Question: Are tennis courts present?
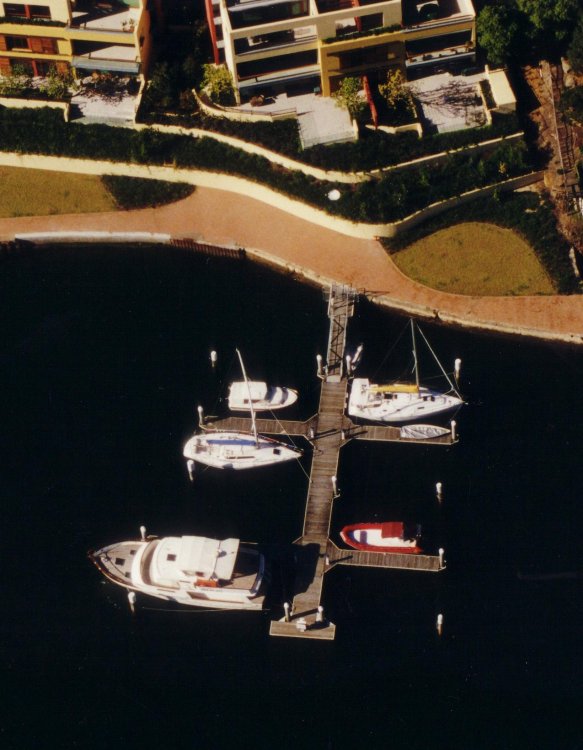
No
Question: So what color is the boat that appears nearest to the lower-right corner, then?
red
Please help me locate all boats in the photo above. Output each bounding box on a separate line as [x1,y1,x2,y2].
[339,520,430,553]
[186,354,305,476]
[226,385,300,414]
[350,320,466,423]
[398,426,450,439]
[87,528,270,606]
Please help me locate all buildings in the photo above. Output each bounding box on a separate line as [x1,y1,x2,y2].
[199,0,478,111]
[485,70,516,125]
[0,0,169,91]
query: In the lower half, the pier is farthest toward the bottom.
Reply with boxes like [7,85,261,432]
[157,375,455,640]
